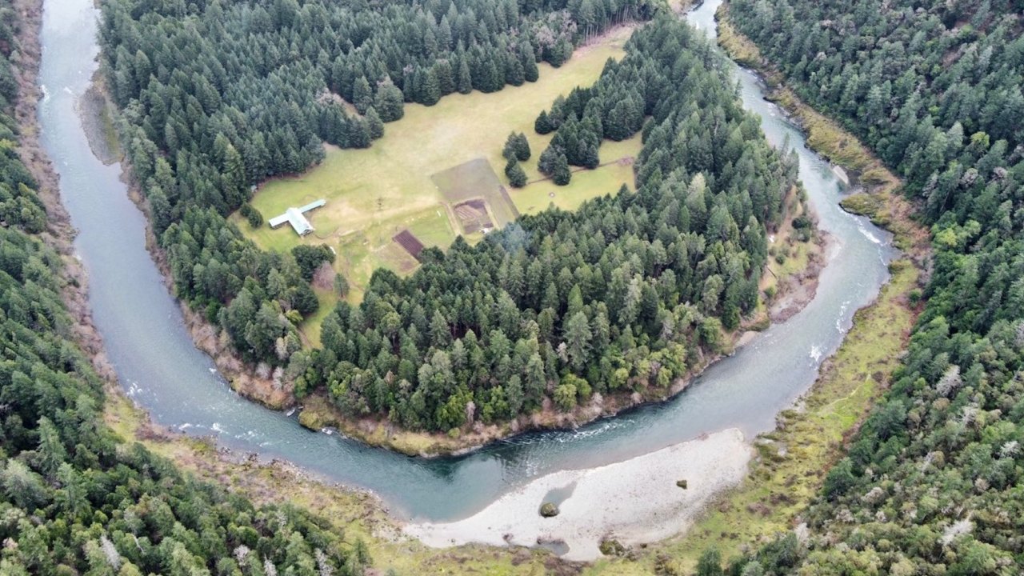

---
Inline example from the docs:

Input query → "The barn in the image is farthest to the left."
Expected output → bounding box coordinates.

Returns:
[269,204,328,241]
